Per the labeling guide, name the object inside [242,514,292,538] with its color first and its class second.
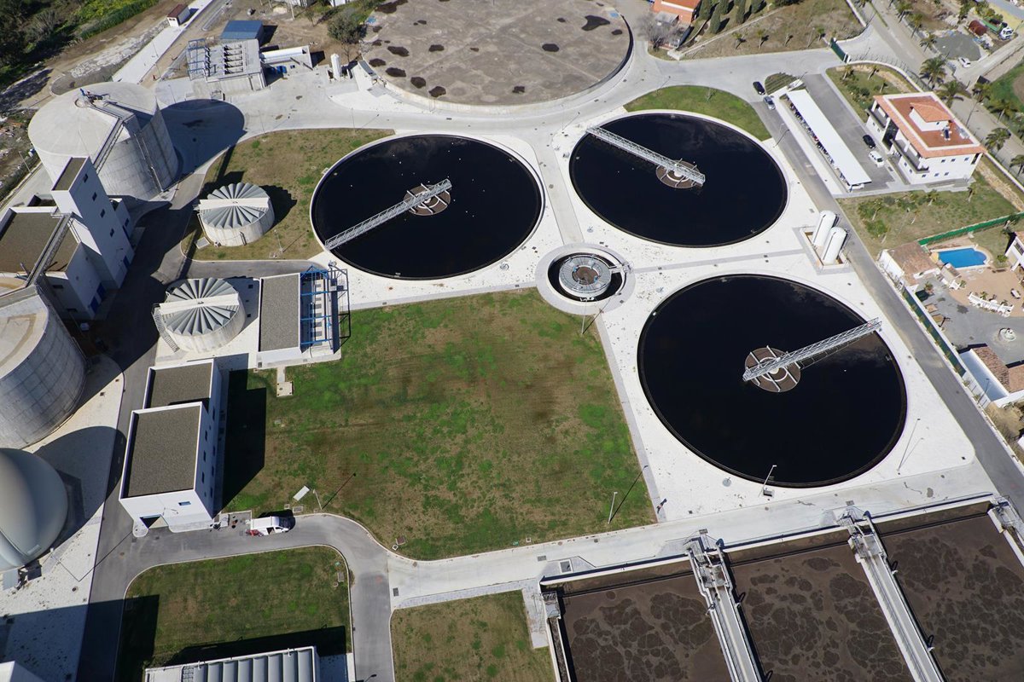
white vehicle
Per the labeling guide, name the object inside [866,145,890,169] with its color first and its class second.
white vehicle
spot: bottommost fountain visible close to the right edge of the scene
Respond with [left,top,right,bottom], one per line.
[999,326,1018,340]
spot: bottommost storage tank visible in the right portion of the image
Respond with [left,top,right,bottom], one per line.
[631,272,913,492]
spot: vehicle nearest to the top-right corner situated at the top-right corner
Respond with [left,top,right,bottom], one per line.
[979,13,1017,34]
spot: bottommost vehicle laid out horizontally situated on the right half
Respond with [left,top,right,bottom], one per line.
[846,182,875,197]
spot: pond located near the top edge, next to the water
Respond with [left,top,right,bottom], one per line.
[347,0,636,118]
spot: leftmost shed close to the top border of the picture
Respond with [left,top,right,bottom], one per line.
[165,1,191,26]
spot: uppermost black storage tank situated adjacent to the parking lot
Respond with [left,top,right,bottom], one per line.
[567,110,790,252]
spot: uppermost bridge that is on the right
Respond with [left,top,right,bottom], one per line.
[584,124,707,184]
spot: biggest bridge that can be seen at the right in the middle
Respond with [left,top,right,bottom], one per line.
[740,315,885,381]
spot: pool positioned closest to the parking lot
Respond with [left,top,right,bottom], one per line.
[932,246,989,269]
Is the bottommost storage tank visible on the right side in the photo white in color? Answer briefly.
No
